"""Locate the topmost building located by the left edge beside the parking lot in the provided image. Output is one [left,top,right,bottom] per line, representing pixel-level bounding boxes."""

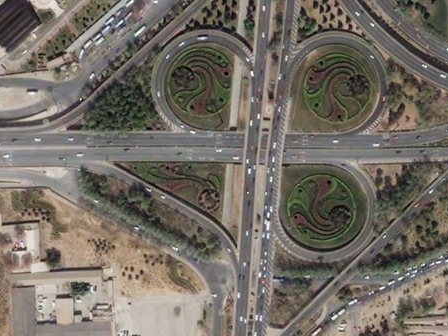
[12,267,103,281]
